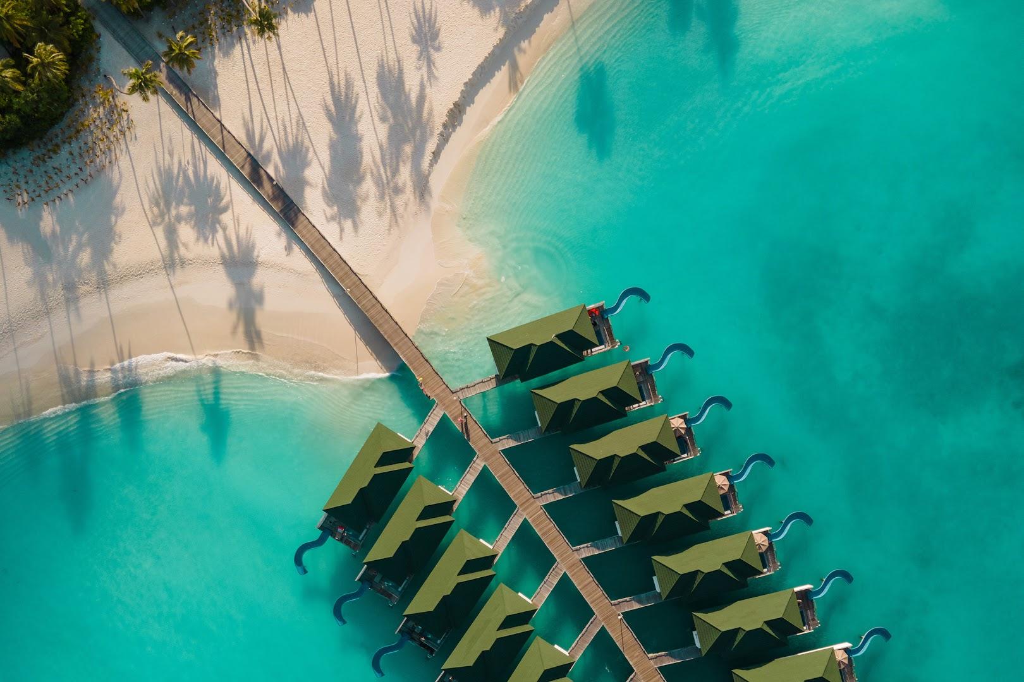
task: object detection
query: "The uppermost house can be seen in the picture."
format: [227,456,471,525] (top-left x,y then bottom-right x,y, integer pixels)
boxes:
[487,301,626,382]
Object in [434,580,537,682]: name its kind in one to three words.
house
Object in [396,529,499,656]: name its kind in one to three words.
house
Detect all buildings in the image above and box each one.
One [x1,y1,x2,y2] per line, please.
[690,580,822,661]
[726,636,860,682]
[530,356,668,436]
[358,476,460,604]
[487,301,626,382]
[396,529,499,656]
[612,466,746,547]
[652,523,783,604]
[505,630,573,682]
[434,580,537,682]
[319,422,420,554]
[569,409,704,492]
